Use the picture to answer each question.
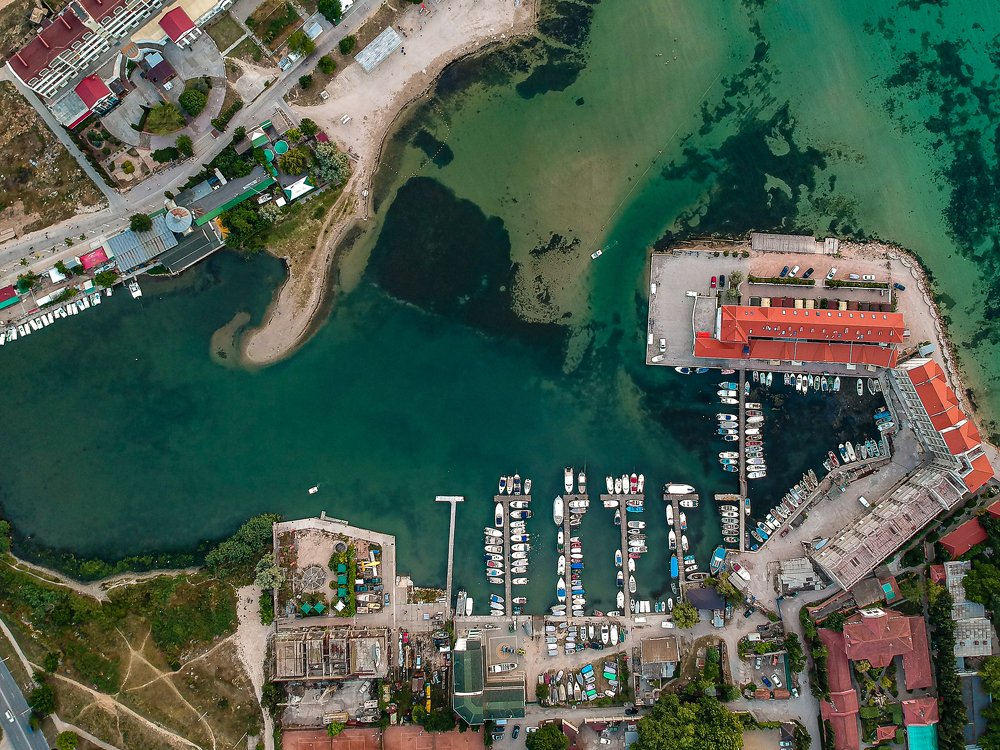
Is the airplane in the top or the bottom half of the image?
bottom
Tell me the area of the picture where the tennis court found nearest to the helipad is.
bottom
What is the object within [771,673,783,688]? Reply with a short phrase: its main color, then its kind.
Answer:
white vehicle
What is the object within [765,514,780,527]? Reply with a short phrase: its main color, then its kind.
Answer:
white boat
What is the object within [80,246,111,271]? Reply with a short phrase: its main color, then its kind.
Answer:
red tent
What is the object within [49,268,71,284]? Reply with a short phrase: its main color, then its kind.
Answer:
white gazebo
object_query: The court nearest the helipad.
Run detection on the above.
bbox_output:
[384,724,484,750]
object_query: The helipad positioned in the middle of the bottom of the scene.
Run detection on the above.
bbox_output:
[487,631,521,674]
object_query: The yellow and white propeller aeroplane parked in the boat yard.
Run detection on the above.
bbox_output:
[356,553,379,577]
